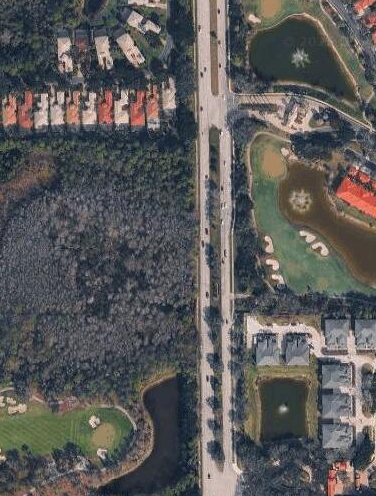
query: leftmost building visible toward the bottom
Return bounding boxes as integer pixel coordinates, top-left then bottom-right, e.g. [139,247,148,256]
[255,335,279,366]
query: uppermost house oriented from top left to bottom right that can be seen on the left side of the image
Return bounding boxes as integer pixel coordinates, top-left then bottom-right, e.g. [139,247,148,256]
[120,3,158,36]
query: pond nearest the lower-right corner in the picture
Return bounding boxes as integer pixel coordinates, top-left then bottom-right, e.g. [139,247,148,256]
[258,376,309,439]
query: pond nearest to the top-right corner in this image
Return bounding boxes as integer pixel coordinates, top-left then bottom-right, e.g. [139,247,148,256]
[248,15,355,100]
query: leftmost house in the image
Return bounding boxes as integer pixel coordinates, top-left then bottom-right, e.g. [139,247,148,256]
[1,96,16,132]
